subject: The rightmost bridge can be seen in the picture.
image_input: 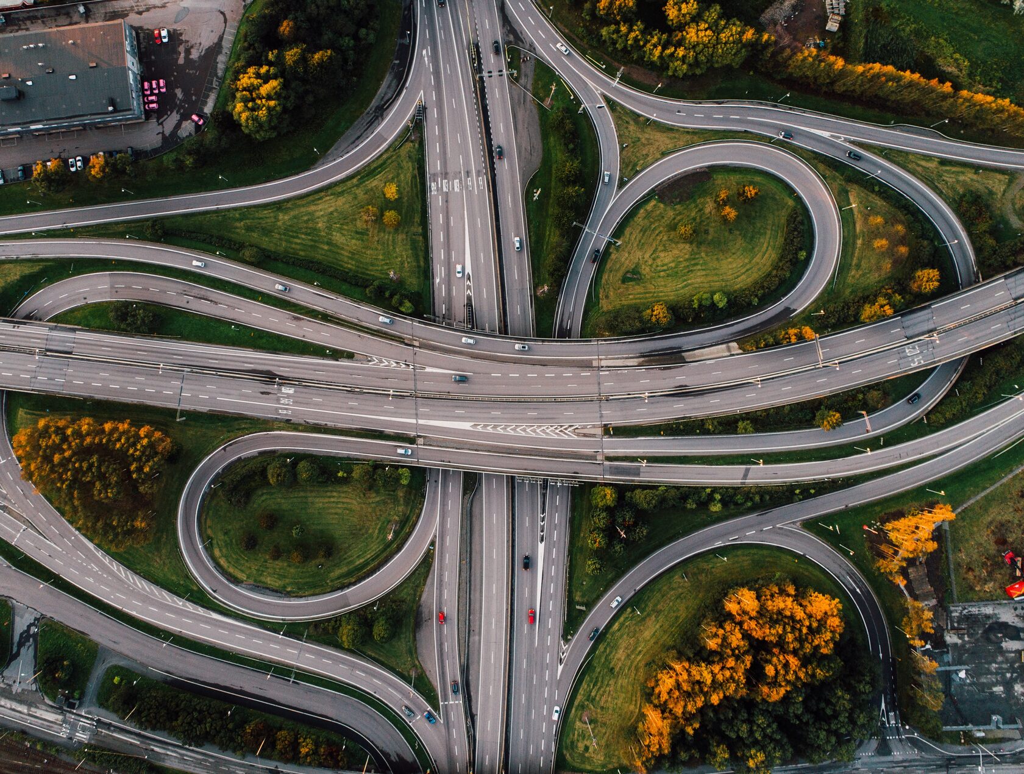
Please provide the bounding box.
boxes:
[931,268,1015,369]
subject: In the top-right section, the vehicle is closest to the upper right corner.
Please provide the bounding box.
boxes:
[825,12,841,35]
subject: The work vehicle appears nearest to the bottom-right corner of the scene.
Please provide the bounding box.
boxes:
[1001,551,1023,575]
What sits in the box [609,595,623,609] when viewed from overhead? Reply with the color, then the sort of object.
white vehicle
